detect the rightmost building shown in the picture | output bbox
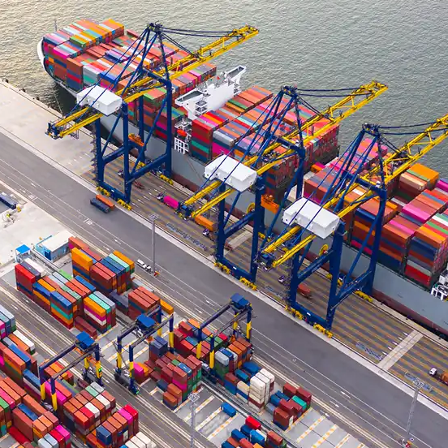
[33,223,86,264]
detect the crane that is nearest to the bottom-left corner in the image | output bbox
[37,332,101,425]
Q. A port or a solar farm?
port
